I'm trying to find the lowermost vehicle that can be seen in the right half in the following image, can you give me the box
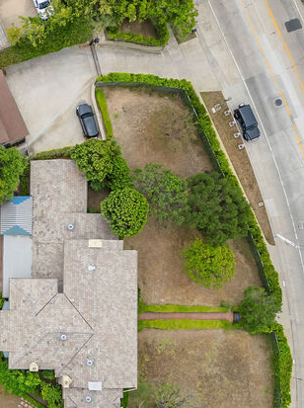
[234,101,261,142]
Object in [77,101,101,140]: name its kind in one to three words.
car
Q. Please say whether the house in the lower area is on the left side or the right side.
left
